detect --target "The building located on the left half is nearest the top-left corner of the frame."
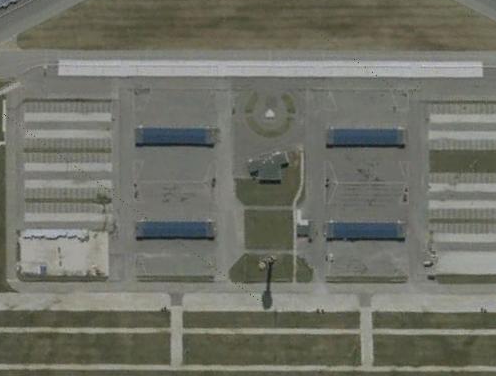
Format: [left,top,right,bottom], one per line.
[136,126,214,144]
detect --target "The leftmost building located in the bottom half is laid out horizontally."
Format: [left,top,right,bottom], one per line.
[136,221,214,238]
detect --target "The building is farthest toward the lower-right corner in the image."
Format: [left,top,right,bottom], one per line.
[327,221,405,239]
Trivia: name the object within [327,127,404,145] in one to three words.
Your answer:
building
